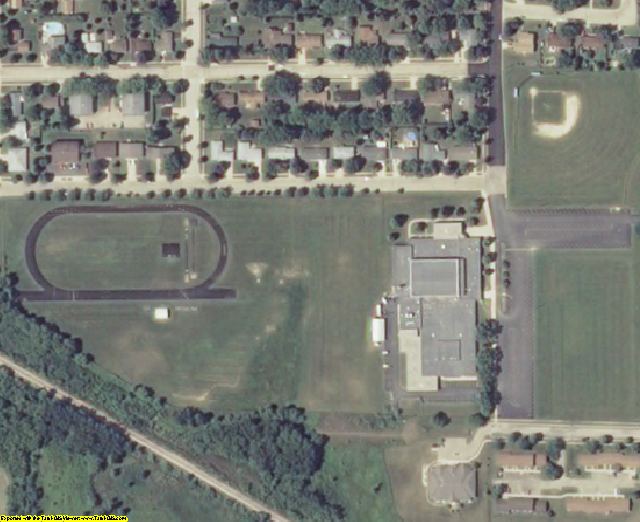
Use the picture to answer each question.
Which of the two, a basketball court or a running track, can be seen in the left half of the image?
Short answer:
running track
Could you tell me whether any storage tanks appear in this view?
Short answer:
No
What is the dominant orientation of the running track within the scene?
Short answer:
from left to right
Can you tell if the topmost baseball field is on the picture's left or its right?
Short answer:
right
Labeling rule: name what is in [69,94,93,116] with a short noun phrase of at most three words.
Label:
house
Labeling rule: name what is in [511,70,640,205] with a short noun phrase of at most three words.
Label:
baseball field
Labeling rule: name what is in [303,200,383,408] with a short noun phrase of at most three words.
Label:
sports field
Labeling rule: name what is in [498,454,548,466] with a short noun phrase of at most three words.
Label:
building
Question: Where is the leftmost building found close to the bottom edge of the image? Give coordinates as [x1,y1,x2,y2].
[429,464,476,504]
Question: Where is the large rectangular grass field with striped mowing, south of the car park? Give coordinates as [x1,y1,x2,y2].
[536,251,640,416]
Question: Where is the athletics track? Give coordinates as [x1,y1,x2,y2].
[20,206,237,300]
